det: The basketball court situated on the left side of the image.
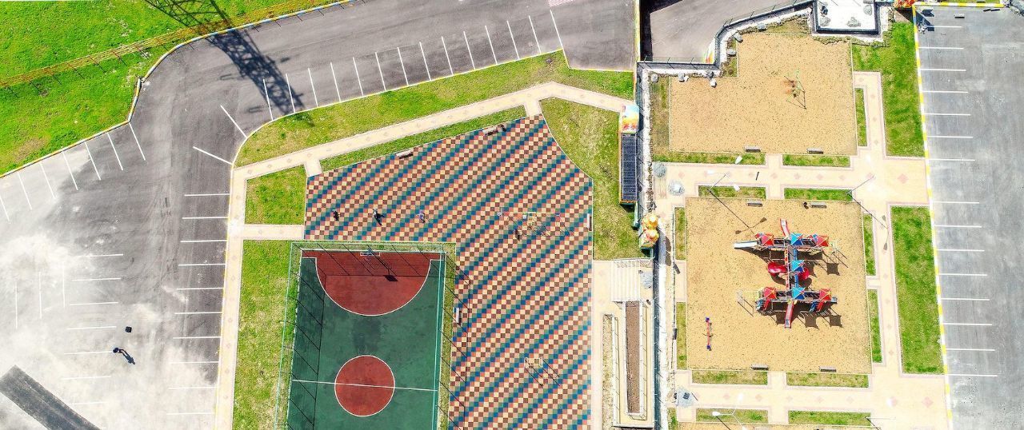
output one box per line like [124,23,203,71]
[287,249,445,430]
